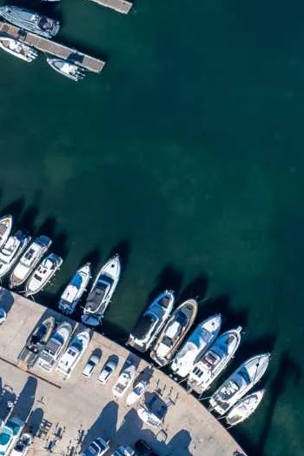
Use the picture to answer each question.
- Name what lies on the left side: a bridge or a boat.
boat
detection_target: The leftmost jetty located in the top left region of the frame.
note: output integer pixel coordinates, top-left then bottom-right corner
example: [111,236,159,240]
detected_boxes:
[0,22,104,73]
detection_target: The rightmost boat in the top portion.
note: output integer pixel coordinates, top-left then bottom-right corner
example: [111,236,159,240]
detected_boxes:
[44,56,86,82]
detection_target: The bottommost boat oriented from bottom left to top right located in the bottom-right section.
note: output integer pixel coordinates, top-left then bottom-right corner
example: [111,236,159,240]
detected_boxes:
[222,388,265,427]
